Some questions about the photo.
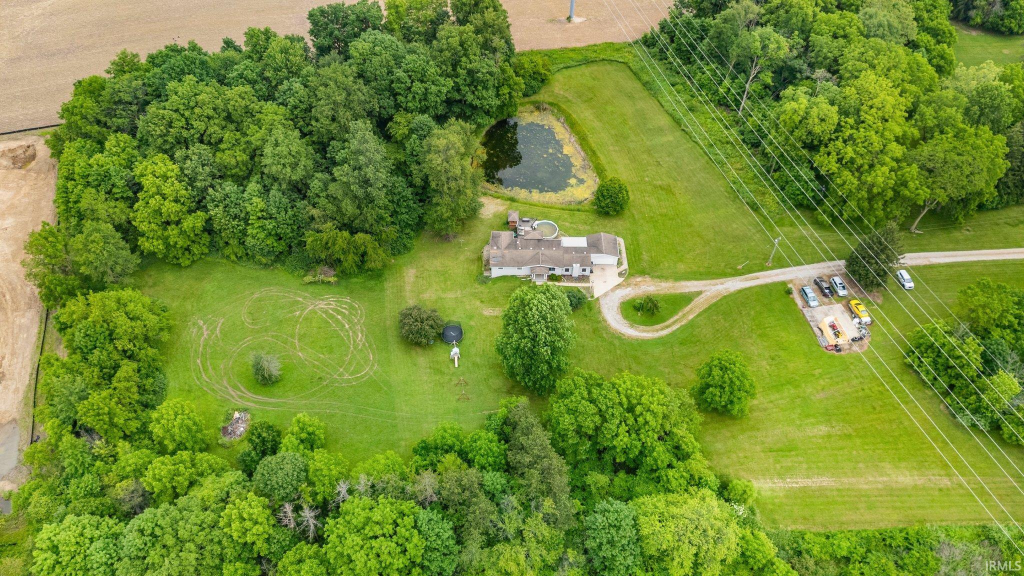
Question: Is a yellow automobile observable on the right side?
Yes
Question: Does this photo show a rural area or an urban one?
rural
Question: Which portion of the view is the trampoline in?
center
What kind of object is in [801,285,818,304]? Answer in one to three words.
car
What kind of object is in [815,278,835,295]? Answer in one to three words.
vehicle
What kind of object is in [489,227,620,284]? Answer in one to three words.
house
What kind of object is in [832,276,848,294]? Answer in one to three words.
car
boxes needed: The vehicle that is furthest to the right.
[899,270,914,286]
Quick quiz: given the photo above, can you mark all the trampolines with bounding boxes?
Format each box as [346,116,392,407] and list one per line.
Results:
[441,324,464,345]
